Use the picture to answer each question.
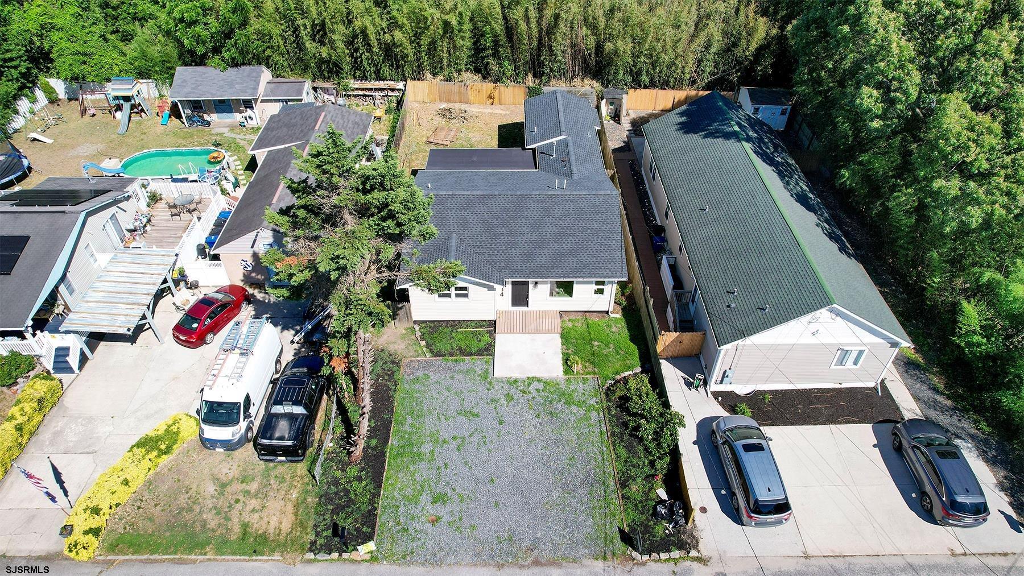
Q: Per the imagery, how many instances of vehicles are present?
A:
5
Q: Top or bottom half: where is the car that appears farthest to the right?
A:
bottom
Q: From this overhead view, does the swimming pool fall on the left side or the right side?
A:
left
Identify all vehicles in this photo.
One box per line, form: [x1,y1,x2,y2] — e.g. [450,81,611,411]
[190,322,281,454]
[717,420,792,531]
[894,421,987,531]
[163,284,253,353]
[254,356,329,465]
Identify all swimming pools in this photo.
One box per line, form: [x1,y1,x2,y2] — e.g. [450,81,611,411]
[118,147,239,193]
